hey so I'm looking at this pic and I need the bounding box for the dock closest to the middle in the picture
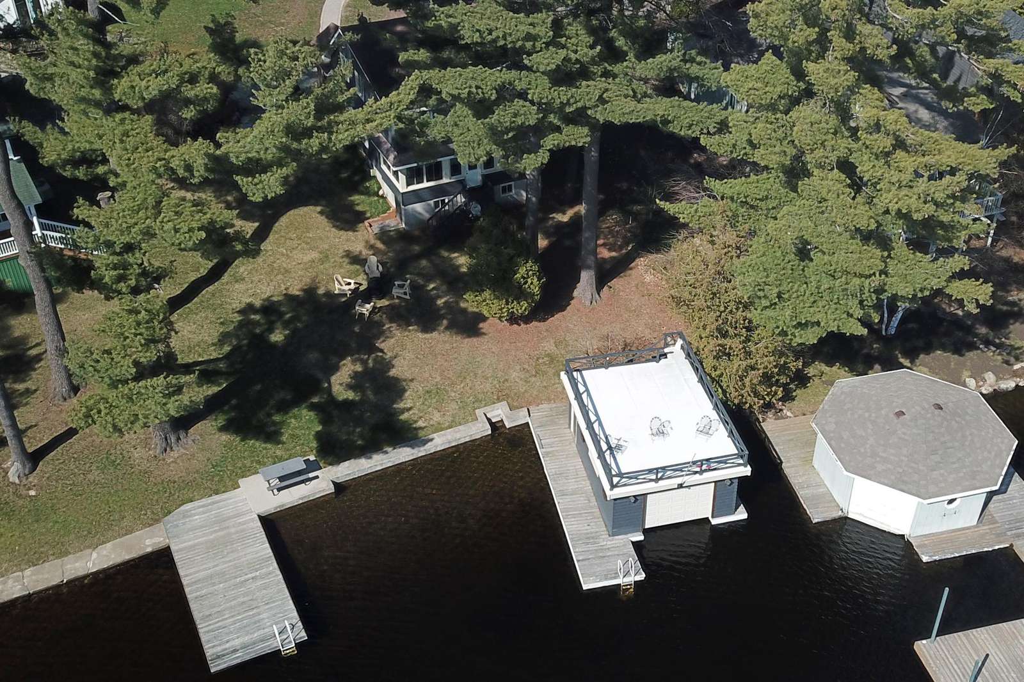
[530,407,648,594]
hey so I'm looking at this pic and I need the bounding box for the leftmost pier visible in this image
[161,487,310,675]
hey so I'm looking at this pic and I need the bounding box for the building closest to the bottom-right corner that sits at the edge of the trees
[809,369,1020,543]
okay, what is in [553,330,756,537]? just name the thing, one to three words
building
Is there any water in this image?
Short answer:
Yes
